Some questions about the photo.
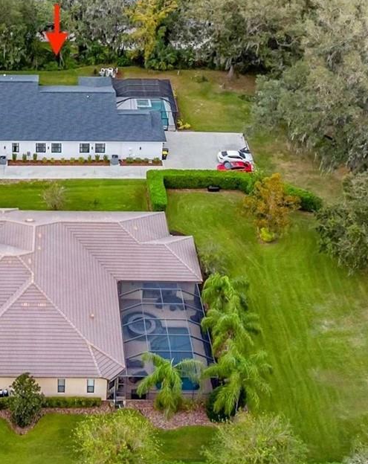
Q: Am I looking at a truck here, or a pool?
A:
pool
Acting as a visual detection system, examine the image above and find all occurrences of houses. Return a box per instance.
[0,204,203,396]
[0,74,165,165]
